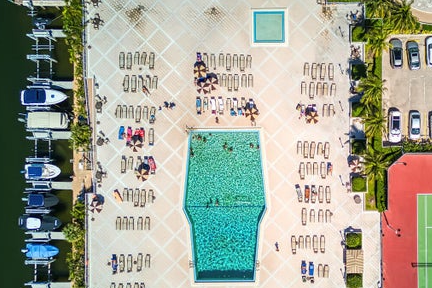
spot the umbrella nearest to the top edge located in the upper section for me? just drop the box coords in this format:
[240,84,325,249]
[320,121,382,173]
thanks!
[193,64,207,77]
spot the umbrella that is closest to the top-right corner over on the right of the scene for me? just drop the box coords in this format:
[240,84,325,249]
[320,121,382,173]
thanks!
[305,112,320,126]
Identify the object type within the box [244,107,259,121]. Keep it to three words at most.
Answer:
umbrella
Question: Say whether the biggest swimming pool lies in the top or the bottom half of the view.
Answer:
bottom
